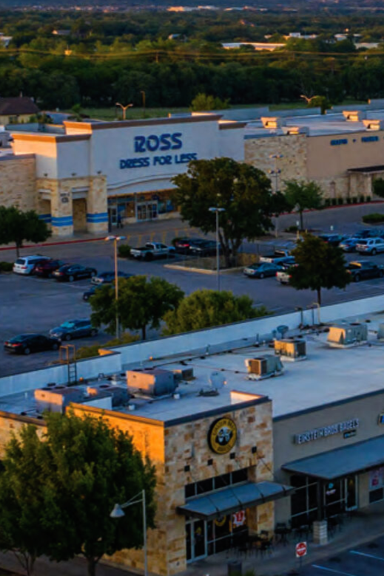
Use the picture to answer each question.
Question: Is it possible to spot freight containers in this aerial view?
No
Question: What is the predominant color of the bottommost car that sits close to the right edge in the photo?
black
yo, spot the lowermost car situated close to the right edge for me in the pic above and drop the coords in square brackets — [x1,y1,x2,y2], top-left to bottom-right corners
[338,257,384,280]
